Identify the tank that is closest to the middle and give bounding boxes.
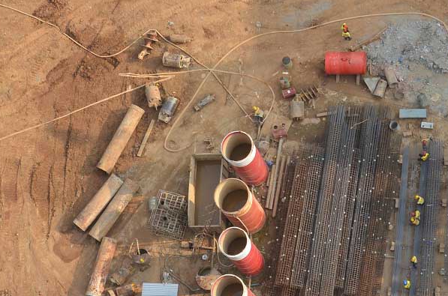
[223,130,276,188]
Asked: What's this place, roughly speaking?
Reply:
industrial area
